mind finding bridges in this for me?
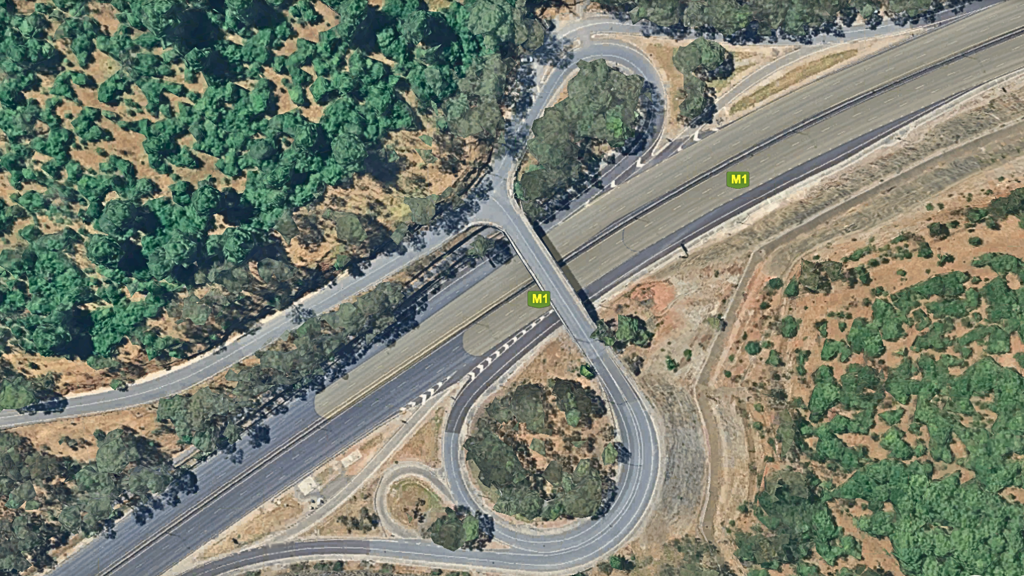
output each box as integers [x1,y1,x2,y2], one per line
[502,212,606,349]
